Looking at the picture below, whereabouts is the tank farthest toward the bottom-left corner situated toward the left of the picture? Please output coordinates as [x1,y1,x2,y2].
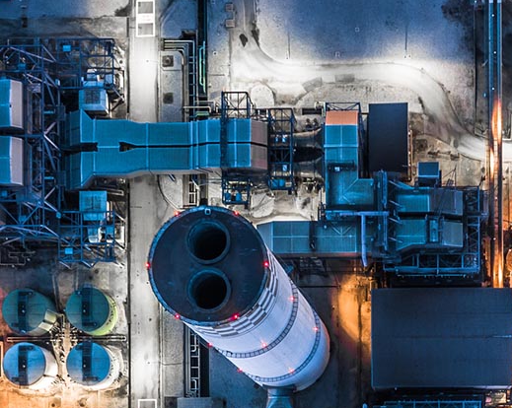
[0,342,61,393]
